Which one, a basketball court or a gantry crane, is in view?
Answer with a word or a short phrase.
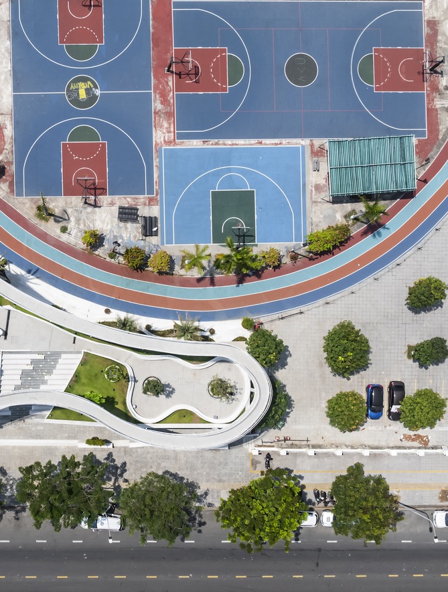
basketball court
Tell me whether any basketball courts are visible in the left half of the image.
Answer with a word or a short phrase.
Yes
